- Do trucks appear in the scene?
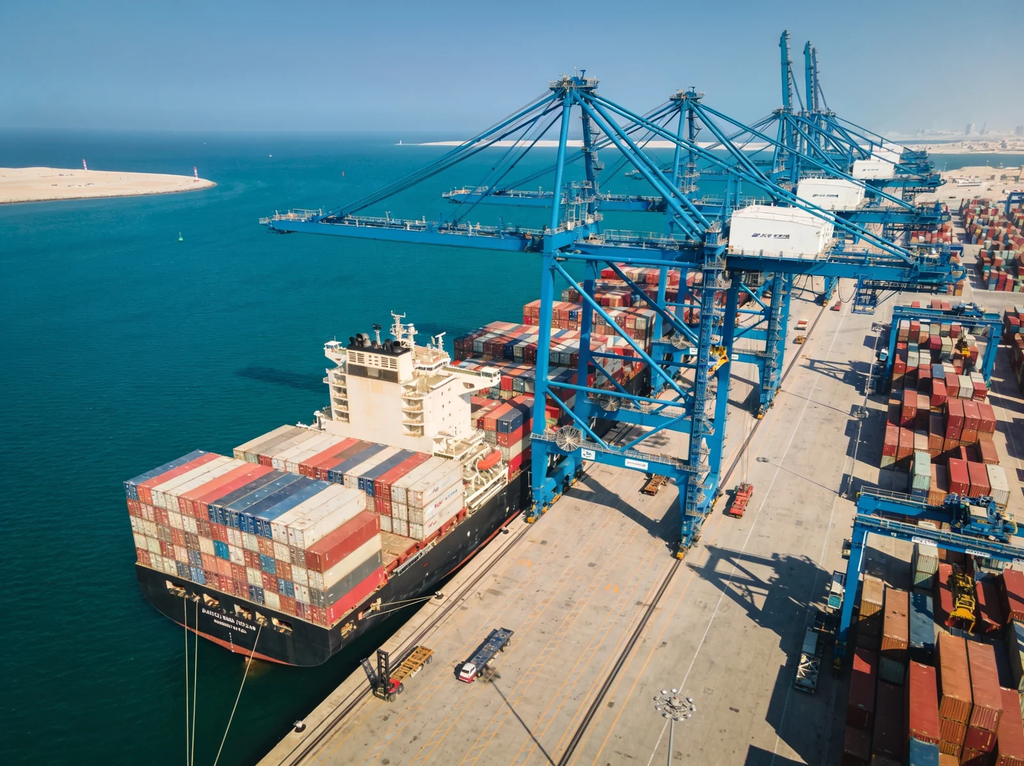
Yes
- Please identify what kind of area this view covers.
port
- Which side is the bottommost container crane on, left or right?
right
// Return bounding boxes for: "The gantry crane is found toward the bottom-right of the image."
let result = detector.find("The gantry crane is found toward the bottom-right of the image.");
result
[828,476,1024,676]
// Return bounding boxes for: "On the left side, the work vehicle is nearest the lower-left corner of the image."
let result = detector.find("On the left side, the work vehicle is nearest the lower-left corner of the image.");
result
[364,652,408,705]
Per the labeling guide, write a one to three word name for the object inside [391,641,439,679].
trailer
